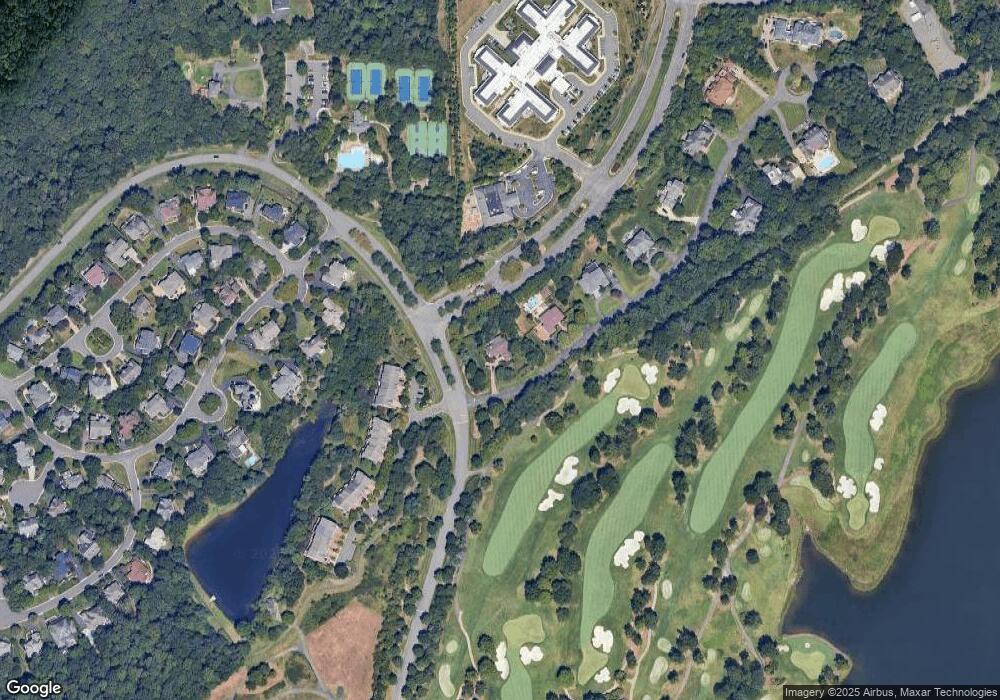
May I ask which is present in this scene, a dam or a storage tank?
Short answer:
dam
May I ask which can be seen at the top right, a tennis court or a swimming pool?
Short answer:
swimming pool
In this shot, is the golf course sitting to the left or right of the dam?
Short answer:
to the right of it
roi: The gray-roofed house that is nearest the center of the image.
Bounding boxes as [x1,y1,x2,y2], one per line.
[485,334,510,360]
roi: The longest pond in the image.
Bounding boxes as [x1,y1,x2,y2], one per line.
[187,404,335,619]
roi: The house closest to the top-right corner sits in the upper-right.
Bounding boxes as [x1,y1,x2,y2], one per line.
[870,68,905,98]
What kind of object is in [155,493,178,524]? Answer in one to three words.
house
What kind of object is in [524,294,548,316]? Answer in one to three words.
swimming pool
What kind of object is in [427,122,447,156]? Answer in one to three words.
sports court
